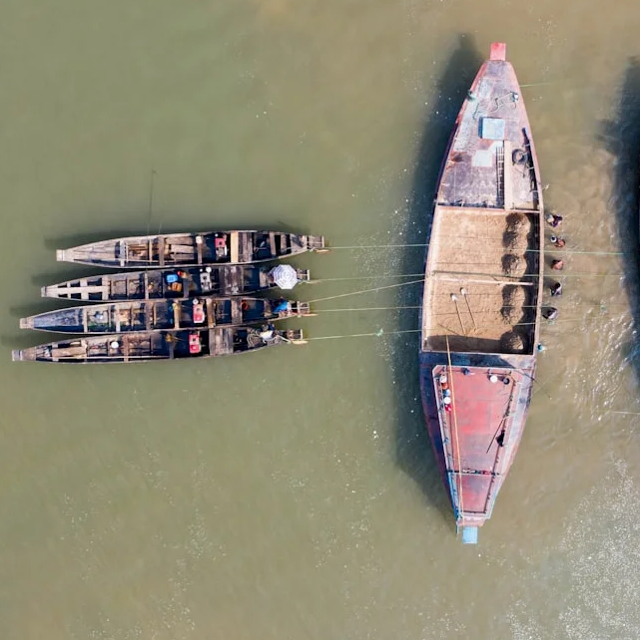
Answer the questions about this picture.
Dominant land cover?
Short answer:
water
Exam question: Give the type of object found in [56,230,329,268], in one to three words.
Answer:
boat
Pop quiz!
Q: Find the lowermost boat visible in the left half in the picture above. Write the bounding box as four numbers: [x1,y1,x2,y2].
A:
[12,327,309,365]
